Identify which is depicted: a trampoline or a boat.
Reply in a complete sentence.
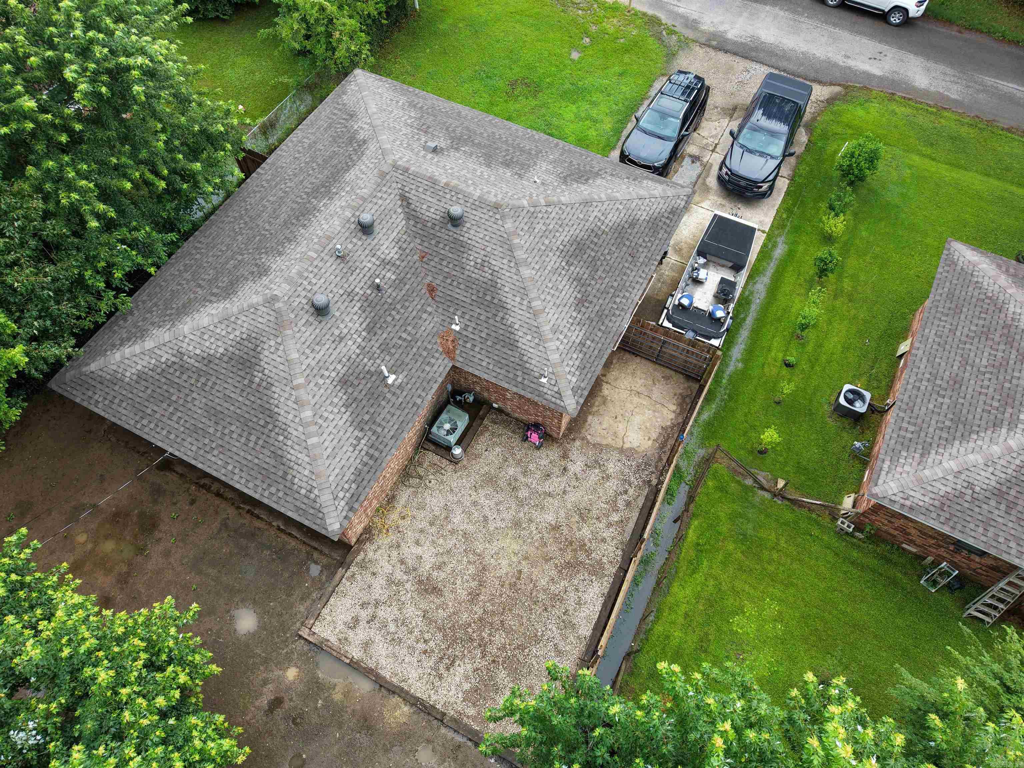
There is a boat in the scene.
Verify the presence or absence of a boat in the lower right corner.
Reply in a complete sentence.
No, I see no boat in the lower right corner.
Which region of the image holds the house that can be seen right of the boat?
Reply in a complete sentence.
Look in the right portion of the view to spot the house that can be seen right of the boat.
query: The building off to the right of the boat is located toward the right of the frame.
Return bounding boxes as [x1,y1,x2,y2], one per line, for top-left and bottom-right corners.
[840,235,1024,606]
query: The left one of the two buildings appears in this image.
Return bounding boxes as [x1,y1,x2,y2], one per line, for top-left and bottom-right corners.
[46,66,696,546]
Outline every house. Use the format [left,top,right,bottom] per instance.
[46,66,696,546]
[840,235,1024,606]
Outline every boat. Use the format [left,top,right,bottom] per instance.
[665,210,758,349]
